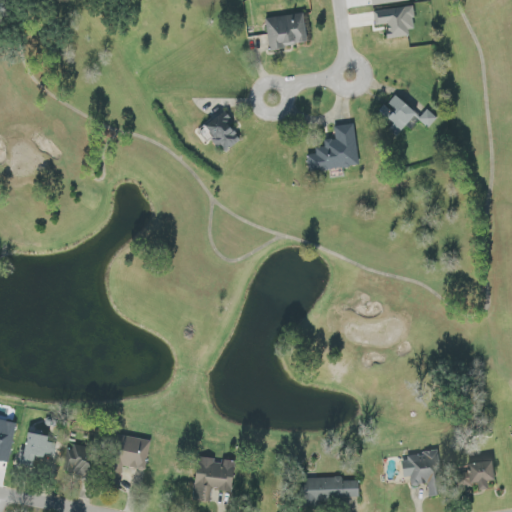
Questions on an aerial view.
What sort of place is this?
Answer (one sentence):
This image shows a golf course.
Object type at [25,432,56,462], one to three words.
house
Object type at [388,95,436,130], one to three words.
house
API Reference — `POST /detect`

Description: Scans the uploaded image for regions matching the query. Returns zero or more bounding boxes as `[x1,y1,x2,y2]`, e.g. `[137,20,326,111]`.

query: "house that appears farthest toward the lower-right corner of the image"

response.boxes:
[459,459,496,490]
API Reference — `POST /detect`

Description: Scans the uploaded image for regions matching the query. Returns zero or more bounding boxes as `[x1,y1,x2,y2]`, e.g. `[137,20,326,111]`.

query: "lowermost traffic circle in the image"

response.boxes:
[250,78,292,120]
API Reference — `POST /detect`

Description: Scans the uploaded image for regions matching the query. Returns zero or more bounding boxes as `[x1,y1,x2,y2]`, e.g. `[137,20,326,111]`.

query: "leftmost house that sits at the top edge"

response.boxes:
[266,12,307,51]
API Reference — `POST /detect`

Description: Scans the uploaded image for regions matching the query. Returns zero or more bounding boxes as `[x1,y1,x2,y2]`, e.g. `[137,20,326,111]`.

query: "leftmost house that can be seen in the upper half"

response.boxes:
[206,112,242,151]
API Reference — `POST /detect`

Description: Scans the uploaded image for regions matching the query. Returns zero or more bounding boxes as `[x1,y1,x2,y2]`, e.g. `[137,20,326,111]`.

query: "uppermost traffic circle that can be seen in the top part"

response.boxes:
[328,52,372,97]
